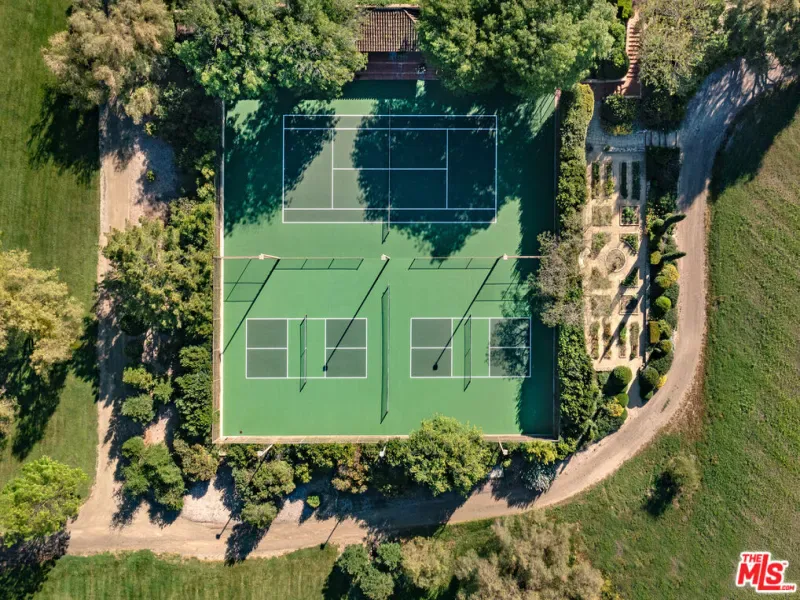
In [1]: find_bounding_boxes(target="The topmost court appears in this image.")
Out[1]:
[223,78,555,258]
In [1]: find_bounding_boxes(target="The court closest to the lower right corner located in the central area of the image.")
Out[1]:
[388,258,555,436]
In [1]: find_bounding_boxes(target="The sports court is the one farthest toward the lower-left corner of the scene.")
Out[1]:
[223,258,388,436]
